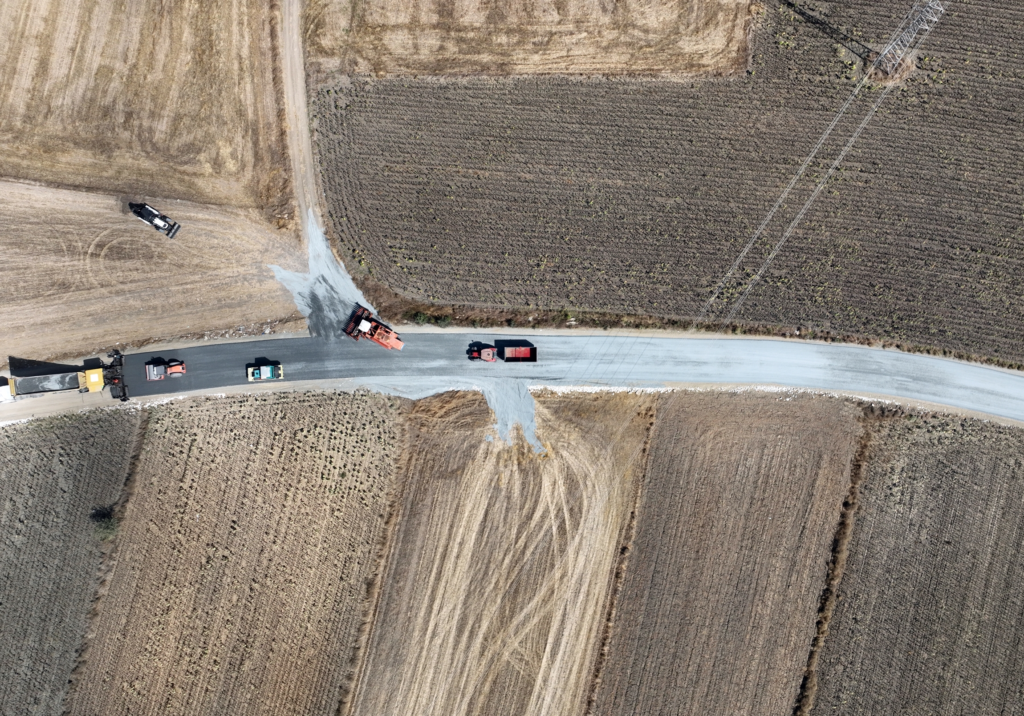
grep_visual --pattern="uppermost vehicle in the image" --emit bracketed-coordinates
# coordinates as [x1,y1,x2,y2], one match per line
[131,204,183,238]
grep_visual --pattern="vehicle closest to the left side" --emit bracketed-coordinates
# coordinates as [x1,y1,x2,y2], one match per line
[0,372,89,404]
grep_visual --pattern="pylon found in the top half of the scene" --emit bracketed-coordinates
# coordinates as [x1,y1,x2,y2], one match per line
[874,0,942,74]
